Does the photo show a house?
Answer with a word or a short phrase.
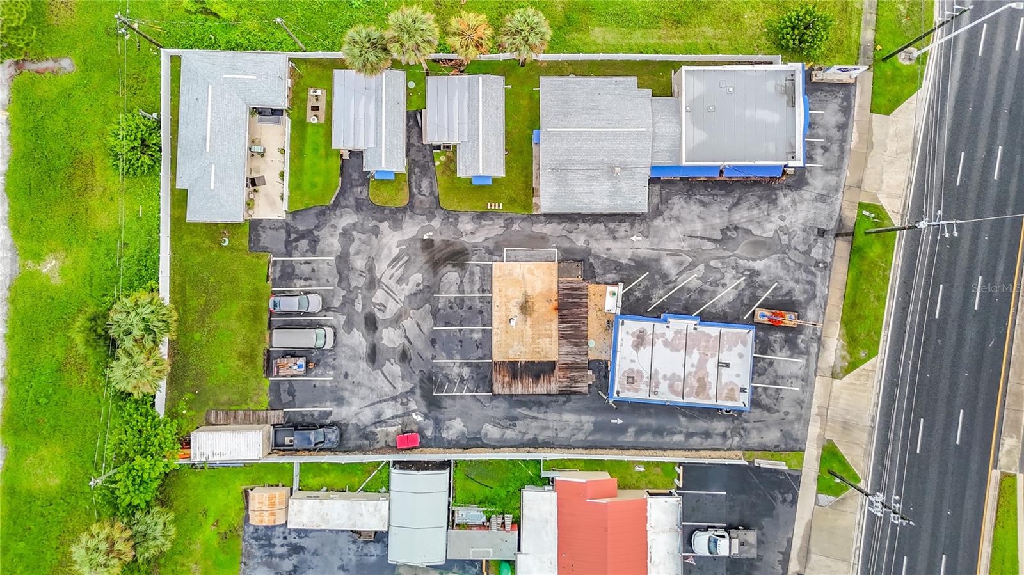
Yes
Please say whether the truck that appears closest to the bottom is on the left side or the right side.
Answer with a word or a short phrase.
right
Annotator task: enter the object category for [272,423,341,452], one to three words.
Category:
truck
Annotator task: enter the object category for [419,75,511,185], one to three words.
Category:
house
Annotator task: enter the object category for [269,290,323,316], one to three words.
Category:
car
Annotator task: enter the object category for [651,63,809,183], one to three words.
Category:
building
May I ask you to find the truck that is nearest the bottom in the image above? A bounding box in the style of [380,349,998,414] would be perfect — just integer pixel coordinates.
[689,525,757,559]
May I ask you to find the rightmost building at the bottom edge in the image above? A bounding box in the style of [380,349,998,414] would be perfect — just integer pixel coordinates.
[516,471,683,575]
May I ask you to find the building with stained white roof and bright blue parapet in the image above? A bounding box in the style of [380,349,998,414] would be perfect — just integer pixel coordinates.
[605,313,755,410]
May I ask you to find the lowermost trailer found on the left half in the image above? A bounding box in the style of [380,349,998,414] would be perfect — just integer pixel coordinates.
[288,493,389,536]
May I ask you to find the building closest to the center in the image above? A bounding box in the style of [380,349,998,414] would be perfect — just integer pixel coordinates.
[492,261,559,362]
